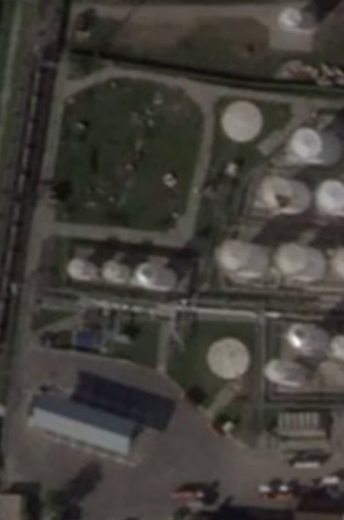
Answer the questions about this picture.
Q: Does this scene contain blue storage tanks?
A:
No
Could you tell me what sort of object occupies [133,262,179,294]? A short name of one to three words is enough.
storage tank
